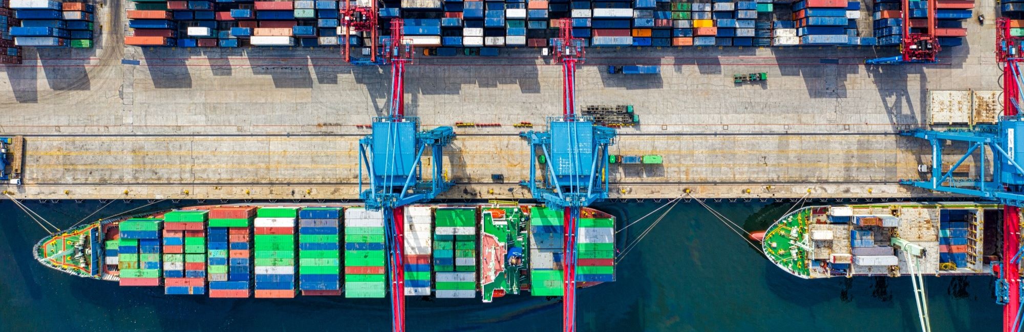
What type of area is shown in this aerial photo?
port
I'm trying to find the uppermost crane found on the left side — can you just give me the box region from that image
[342,0,391,65]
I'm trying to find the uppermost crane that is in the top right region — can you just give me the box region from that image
[864,0,937,65]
